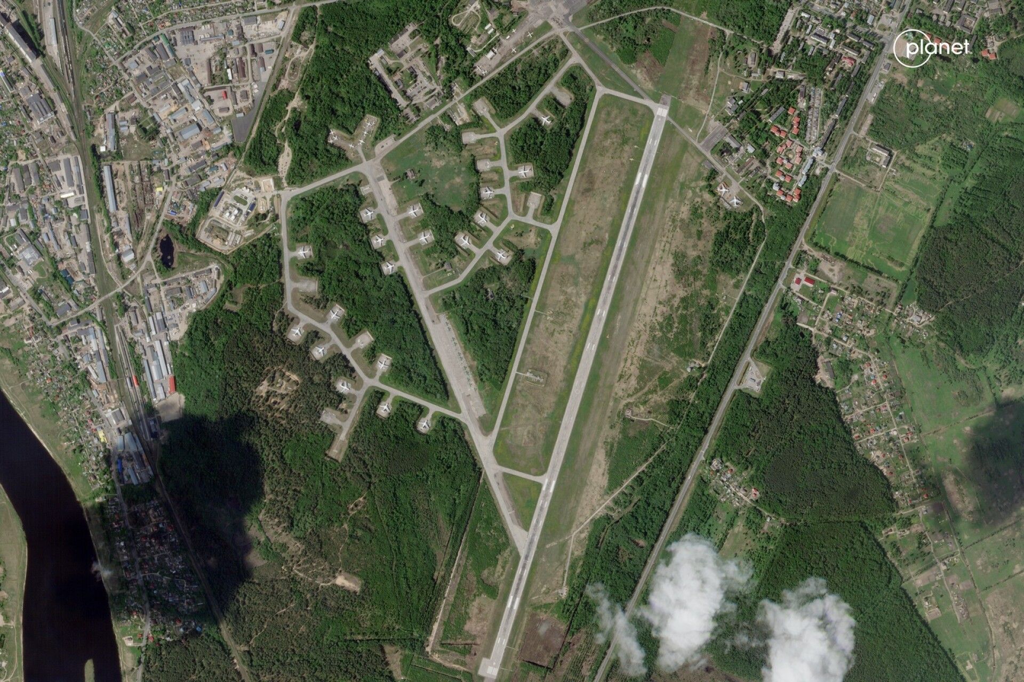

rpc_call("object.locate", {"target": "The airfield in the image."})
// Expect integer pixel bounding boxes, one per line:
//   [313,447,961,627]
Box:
[278,0,739,682]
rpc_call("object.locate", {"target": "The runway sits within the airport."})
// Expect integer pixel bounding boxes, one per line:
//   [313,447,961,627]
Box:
[486,103,669,679]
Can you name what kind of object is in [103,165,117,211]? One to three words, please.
building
